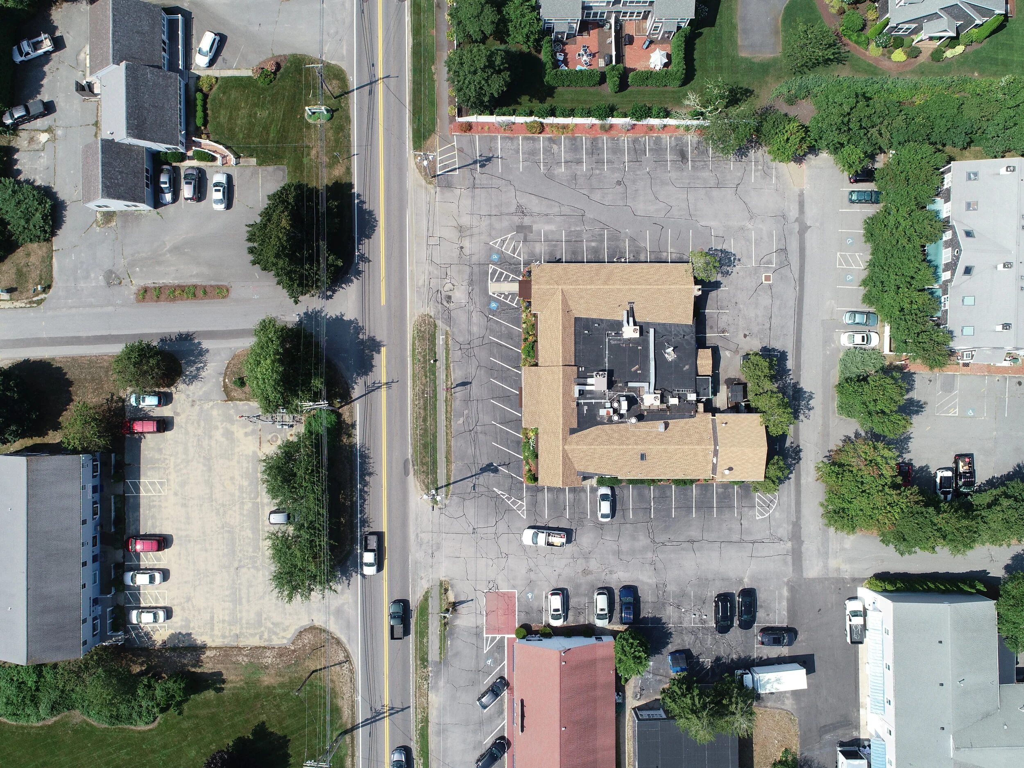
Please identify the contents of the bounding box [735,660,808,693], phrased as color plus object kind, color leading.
white truck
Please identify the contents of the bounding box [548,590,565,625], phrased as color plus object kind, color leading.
white car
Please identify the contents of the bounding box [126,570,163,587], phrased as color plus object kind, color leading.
white car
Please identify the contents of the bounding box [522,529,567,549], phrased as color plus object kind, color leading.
white vehicle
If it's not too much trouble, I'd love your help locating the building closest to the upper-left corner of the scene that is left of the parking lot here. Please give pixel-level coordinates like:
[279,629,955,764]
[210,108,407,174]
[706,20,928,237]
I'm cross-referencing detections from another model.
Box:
[82,0,195,209]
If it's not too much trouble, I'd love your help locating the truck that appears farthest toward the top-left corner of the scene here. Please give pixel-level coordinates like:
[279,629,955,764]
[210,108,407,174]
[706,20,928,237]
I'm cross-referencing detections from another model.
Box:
[12,30,57,65]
